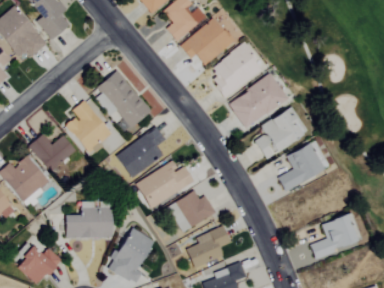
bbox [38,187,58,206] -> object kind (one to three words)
swimming pool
